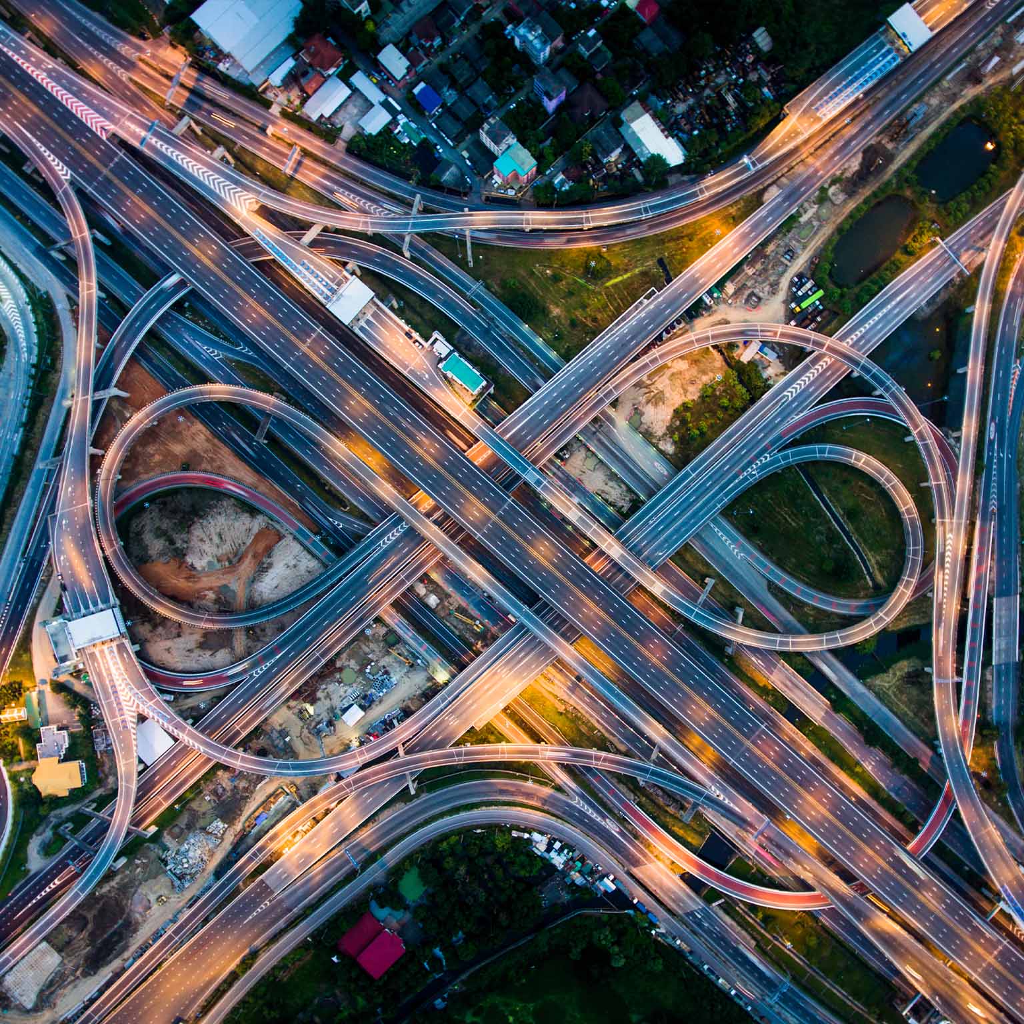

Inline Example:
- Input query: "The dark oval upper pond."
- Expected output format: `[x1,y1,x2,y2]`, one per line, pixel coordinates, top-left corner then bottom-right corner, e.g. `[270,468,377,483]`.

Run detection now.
[919,117,999,204]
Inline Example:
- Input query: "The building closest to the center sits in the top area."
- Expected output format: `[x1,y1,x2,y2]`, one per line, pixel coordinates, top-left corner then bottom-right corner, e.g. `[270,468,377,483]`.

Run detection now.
[428,335,493,397]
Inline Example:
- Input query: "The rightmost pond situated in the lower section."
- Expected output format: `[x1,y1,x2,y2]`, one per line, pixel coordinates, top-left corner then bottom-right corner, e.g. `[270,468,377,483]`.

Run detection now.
[781,618,932,723]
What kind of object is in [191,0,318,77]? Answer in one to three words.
building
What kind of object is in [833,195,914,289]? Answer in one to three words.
pond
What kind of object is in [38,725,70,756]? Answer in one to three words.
house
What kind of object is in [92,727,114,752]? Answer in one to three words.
shed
